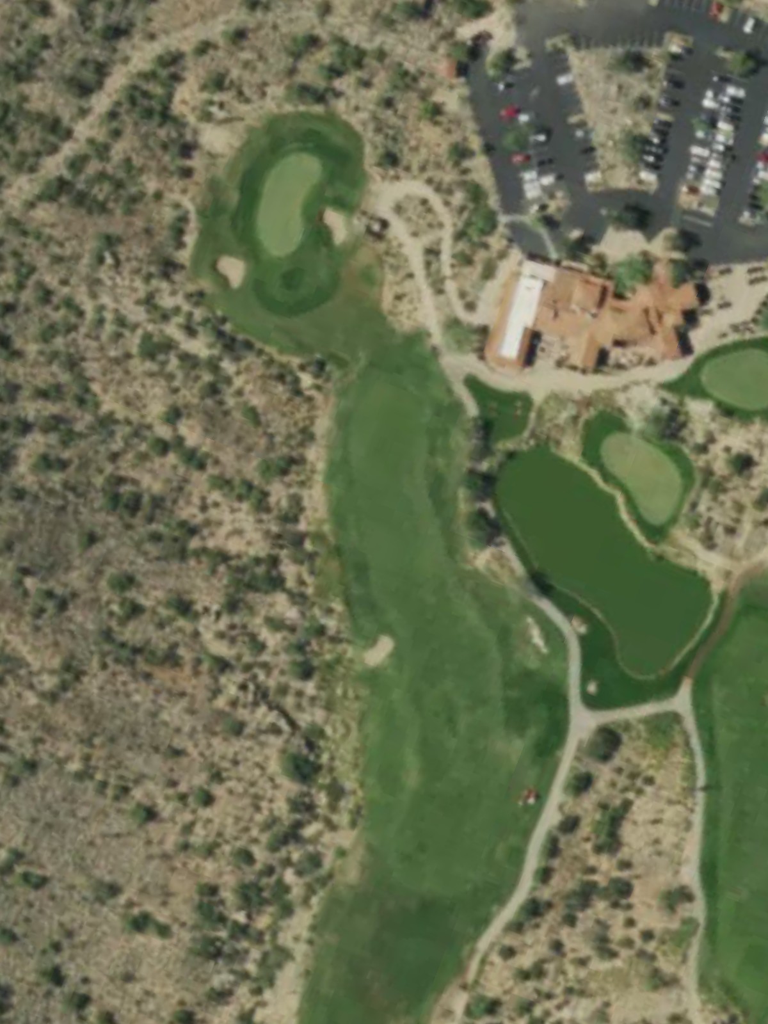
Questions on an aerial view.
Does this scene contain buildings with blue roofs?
No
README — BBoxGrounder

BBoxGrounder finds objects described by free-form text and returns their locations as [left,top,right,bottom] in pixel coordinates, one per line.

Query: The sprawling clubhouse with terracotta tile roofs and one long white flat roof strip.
[486,258,704,372]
